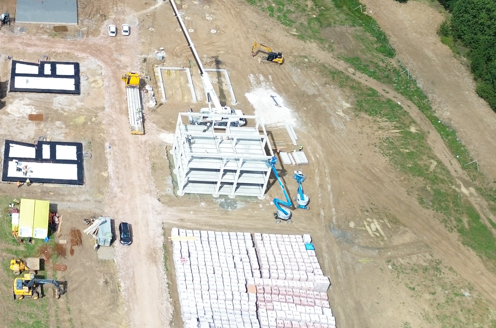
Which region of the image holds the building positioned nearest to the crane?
center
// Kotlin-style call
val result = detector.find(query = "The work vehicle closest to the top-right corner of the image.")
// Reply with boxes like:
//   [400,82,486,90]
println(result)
[250,41,284,66]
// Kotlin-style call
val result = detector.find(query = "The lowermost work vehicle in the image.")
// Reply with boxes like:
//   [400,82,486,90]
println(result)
[12,273,63,300]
